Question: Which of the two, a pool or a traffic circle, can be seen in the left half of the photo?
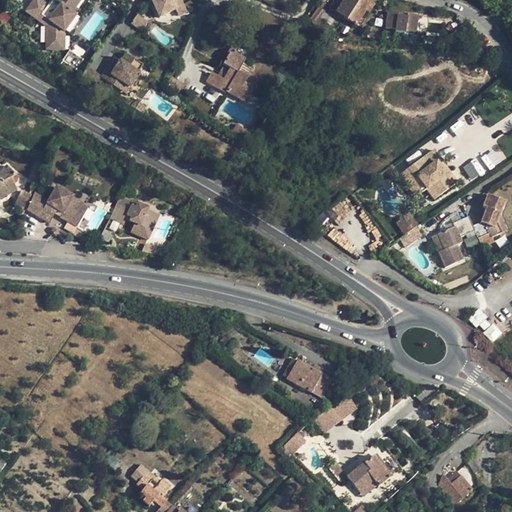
pool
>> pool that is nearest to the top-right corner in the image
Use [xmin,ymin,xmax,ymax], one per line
[378,181,402,217]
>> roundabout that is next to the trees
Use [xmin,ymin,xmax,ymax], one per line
[374,296,472,396]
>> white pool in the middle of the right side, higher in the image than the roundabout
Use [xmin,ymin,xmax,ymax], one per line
[401,238,436,276]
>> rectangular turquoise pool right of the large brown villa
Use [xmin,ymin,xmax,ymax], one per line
[78,9,110,42]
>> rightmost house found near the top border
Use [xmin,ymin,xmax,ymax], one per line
[386,11,420,30]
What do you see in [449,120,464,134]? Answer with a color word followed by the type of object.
white vehicle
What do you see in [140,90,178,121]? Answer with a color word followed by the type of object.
white swimming pool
